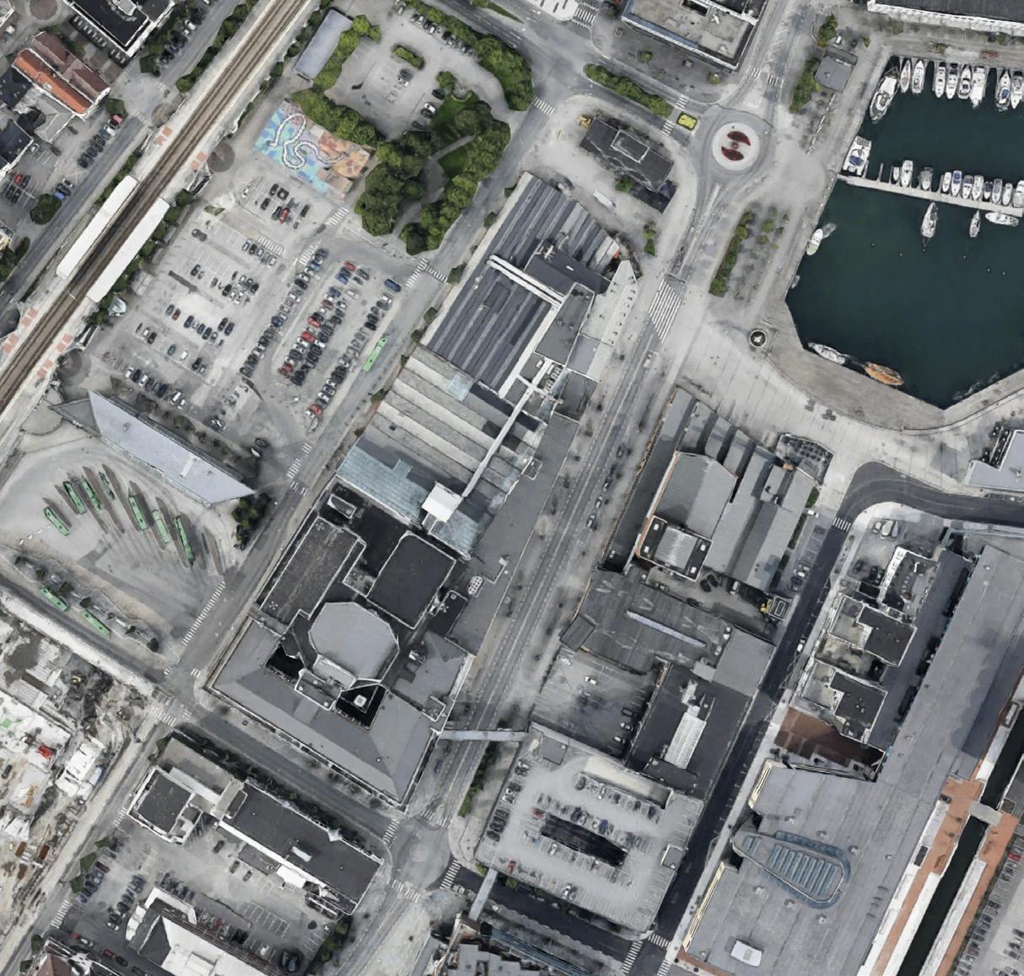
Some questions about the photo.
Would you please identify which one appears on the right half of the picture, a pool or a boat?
boat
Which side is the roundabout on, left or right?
right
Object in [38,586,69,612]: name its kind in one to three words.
bus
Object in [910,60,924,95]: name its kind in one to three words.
boat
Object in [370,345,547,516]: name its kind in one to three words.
shed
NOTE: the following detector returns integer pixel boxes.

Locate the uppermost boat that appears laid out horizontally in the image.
[984,210,1017,226]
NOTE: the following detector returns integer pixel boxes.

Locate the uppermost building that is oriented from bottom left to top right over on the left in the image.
[294,8,353,81]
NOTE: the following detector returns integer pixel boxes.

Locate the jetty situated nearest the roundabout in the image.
[839,163,1024,217]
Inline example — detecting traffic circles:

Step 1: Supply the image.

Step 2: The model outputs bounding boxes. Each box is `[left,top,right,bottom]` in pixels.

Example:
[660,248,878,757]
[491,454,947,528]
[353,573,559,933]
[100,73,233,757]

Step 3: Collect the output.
[696,106,775,186]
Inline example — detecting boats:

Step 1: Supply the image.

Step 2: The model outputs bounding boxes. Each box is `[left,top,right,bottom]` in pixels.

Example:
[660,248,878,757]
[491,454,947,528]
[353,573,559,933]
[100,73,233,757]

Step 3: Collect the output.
[1010,70,1024,109]
[809,343,847,365]
[935,62,946,97]
[899,59,913,93]
[995,70,1011,111]
[962,175,973,199]
[942,172,951,192]
[843,139,872,178]
[921,167,932,190]
[790,276,799,289]
[991,179,1002,204]
[951,170,962,196]
[873,68,903,122]
[920,202,942,239]
[1012,180,1024,208]
[805,229,822,256]
[946,63,959,99]
[893,167,899,181]
[900,160,913,187]
[972,175,984,200]
[957,66,972,100]
[822,225,834,239]
[983,181,992,199]
[984,210,1017,226]
[969,211,986,238]
[910,60,924,95]
[1002,183,1012,206]
[971,65,986,108]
